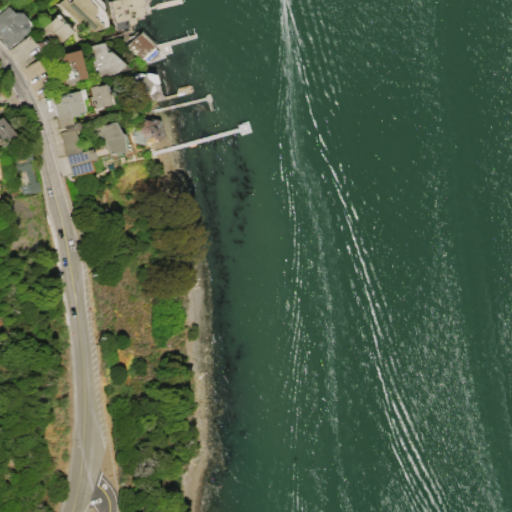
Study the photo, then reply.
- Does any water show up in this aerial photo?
Yes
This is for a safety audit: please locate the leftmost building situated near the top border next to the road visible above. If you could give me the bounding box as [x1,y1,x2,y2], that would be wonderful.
[0,7,32,48]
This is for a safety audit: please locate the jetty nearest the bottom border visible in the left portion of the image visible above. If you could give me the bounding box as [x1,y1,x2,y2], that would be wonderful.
[152,121,252,156]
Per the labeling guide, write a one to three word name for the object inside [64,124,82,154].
building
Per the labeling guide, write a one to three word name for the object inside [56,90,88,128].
house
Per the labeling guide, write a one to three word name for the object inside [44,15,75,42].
house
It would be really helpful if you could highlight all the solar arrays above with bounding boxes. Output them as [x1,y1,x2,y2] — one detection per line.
[72,163,93,176]
[70,153,89,164]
